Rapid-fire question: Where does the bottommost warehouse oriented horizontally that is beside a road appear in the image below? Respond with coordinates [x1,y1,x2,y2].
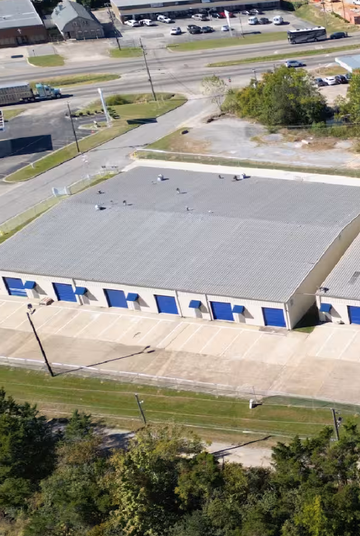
[0,166,360,328]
